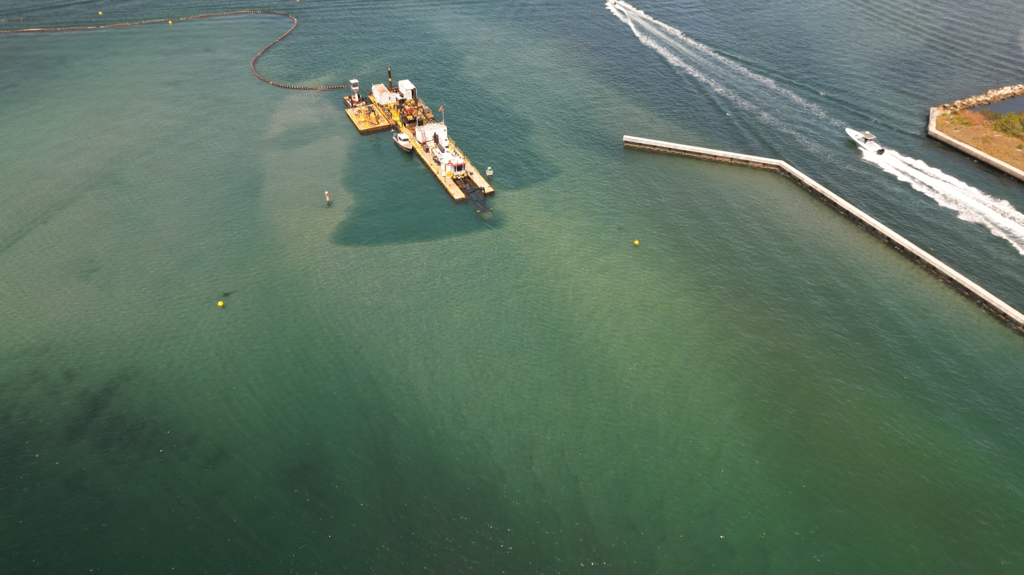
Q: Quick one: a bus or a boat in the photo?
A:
boat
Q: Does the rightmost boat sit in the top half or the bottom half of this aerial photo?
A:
top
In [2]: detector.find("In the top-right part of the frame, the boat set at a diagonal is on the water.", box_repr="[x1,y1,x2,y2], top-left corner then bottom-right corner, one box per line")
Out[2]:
[847,121,890,154]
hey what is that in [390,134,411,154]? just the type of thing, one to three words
boat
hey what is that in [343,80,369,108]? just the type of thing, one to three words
boat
